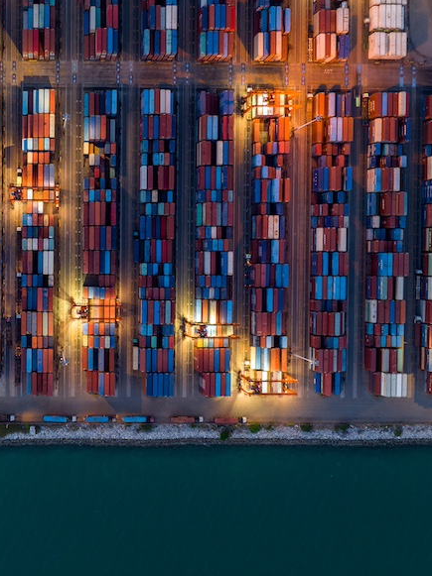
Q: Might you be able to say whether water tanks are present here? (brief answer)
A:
No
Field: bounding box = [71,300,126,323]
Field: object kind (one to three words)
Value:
container crane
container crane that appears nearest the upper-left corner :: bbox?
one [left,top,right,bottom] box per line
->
[9,184,63,209]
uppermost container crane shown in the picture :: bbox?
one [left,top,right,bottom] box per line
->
[242,88,304,119]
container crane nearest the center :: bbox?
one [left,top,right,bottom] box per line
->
[186,318,245,341]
